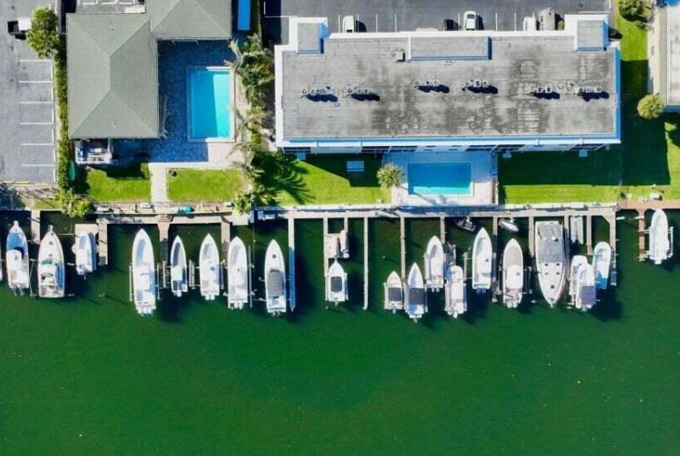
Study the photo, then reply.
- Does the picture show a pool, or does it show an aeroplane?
pool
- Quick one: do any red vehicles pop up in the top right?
No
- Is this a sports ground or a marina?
marina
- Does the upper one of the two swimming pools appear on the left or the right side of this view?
left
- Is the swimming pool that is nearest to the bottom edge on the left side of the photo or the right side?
right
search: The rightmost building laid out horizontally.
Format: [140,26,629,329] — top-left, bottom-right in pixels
[275,14,620,153]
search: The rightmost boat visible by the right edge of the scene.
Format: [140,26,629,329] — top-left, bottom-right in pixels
[648,209,671,267]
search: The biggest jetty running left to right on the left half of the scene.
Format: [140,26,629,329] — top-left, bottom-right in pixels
[98,213,252,226]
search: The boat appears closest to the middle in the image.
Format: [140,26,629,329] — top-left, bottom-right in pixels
[328,253,344,306]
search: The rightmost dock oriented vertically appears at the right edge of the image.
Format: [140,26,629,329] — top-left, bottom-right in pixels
[634,209,648,261]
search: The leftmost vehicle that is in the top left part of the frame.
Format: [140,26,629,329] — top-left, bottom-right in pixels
[7,18,34,38]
